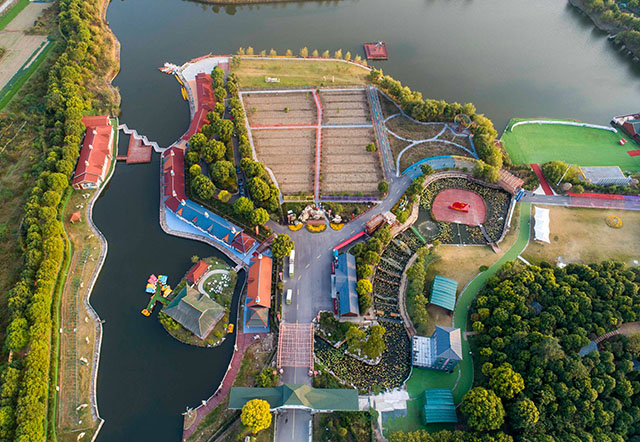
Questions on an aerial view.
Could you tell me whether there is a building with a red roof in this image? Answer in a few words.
Yes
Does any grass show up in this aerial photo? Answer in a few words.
Yes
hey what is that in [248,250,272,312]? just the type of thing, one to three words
building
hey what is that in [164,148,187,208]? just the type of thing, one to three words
building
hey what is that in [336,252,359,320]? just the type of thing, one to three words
house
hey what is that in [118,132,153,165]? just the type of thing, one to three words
pier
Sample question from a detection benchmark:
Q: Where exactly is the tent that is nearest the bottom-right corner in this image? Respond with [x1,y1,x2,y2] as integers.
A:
[532,205,550,248]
